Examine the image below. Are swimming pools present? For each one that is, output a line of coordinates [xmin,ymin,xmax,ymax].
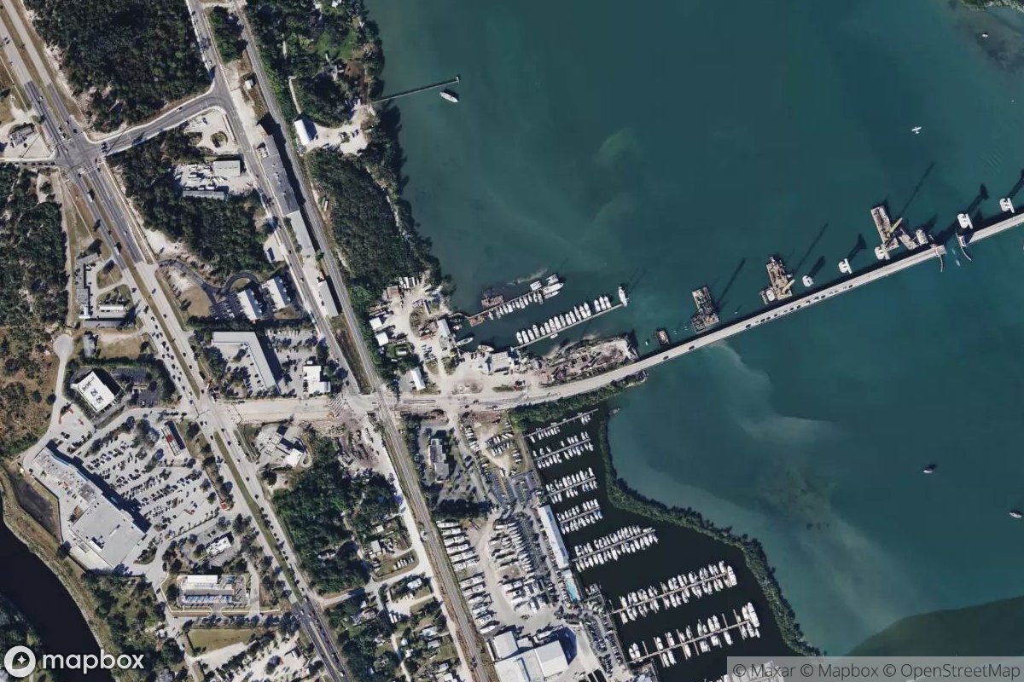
[565,578,580,603]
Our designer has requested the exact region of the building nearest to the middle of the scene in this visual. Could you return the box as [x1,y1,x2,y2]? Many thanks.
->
[491,351,511,372]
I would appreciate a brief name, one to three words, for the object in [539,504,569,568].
shed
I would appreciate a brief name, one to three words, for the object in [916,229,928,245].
ship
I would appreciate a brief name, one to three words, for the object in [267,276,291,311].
building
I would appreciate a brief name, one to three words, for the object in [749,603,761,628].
boat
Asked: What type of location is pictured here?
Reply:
port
